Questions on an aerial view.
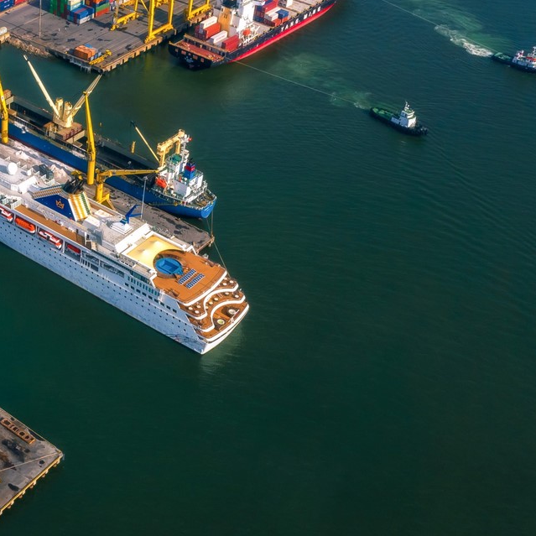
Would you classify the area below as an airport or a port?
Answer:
port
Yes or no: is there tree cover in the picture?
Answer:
No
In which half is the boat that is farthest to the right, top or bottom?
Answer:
top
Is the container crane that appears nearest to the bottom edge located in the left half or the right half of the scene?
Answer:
left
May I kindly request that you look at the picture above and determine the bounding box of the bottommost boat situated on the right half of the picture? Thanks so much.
[368,99,429,132]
